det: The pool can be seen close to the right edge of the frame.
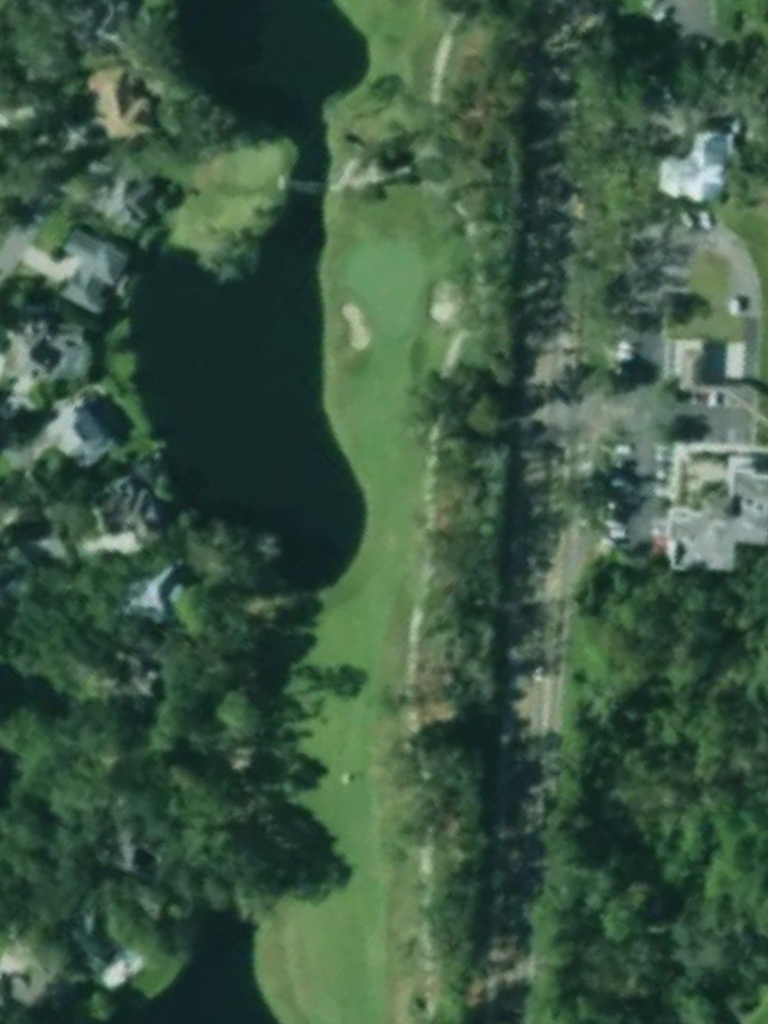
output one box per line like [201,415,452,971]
[694,339,745,385]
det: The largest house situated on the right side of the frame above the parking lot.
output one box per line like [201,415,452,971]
[659,127,736,205]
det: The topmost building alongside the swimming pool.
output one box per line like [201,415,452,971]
[676,340,703,382]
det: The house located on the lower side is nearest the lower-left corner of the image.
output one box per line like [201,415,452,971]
[69,919,145,993]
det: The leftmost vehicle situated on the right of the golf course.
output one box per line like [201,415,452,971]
[532,667,545,684]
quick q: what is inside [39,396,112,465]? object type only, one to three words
house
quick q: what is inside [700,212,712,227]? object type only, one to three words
vehicle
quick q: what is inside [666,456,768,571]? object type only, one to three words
building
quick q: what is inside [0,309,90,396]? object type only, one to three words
house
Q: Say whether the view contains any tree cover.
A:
Yes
